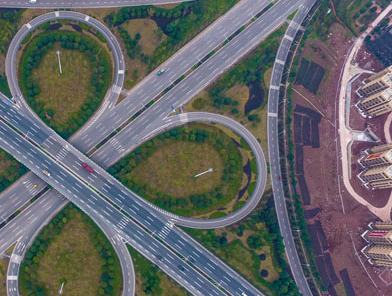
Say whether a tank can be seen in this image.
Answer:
No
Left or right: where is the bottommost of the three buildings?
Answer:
right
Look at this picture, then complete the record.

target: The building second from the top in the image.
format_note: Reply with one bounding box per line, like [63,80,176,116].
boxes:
[357,144,392,190]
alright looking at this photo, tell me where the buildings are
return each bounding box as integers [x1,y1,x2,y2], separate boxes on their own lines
[354,67,392,118]
[357,144,392,190]
[360,219,392,268]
